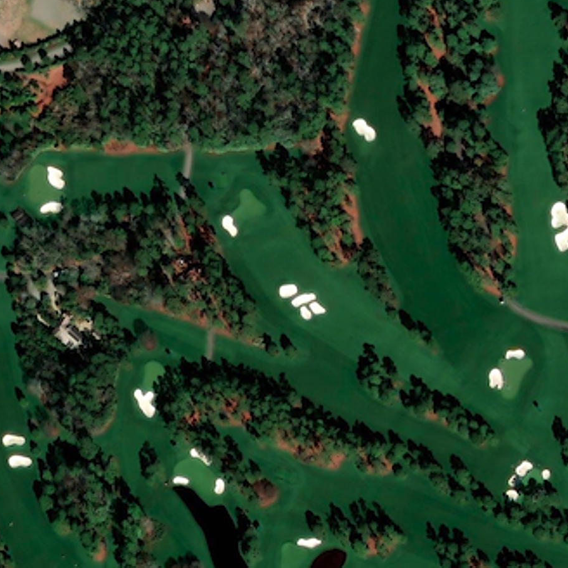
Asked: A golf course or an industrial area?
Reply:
golf course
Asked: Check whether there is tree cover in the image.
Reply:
Yes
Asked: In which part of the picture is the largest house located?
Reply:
left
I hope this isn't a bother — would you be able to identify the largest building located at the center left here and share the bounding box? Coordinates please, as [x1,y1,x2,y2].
[56,314,82,347]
